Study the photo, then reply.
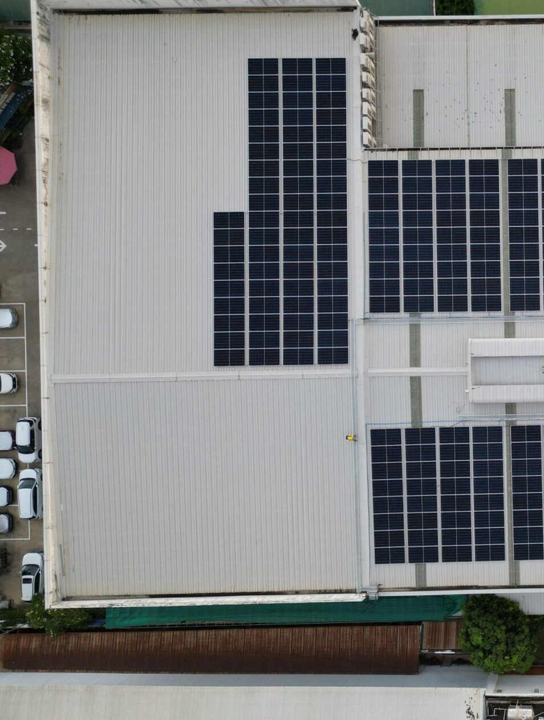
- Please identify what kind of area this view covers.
industrial area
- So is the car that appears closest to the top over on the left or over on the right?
left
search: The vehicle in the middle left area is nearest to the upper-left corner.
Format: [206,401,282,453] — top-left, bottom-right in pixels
[0,308,21,330]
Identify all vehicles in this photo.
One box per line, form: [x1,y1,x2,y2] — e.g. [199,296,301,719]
[0,458,19,479]
[0,308,21,330]
[17,550,46,604]
[0,370,22,396]
[16,464,43,518]
[0,511,15,534]
[0,485,14,507]
[14,413,42,461]
[0,429,17,452]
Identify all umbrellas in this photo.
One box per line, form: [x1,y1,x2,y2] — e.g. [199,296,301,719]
[0,147,21,186]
